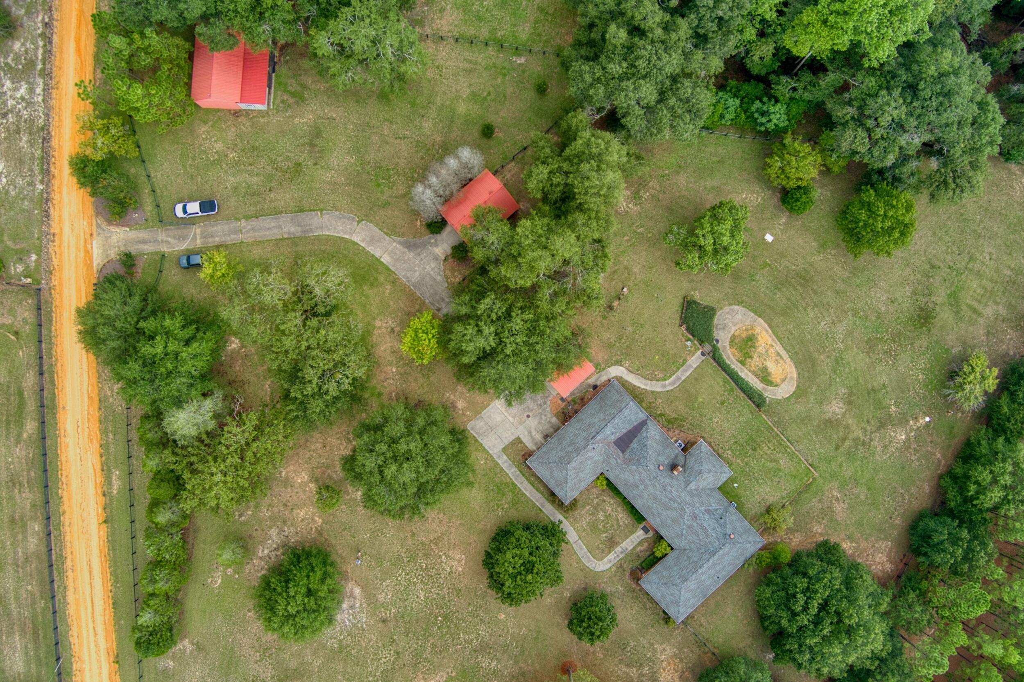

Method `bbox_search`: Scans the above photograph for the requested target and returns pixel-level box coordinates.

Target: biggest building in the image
[526,379,766,624]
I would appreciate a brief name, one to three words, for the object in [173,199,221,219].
vehicle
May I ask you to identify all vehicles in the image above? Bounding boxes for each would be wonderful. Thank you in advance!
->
[173,199,221,219]
[178,253,221,270]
